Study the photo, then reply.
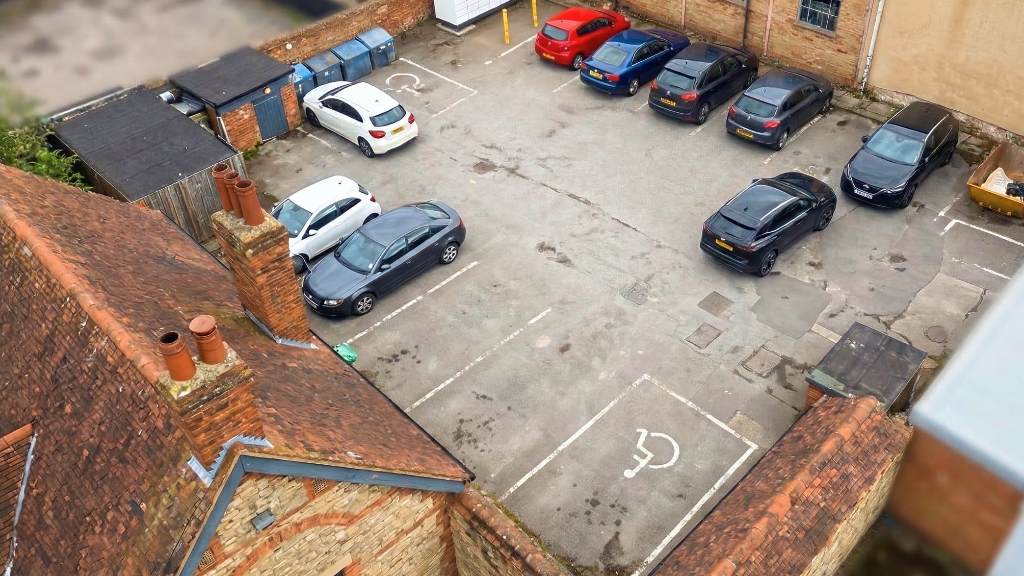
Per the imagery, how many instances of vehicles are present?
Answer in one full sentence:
In total, there are 9 vehicles in the scene.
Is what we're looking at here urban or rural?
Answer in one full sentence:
The area shown here is urban.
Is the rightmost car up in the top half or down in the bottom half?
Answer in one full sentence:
The top half of the photo is where the rightmost car is.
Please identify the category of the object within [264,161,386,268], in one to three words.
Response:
car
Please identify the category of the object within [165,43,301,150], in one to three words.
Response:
shed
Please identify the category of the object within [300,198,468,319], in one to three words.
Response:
car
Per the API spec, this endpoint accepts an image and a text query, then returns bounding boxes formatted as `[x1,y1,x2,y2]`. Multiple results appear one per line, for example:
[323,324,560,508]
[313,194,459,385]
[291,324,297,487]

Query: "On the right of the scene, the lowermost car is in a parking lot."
[690,168,838,280]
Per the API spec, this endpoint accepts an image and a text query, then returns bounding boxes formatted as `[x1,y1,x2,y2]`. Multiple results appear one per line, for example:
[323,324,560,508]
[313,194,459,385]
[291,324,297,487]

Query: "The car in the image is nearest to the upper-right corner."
[835,98,966,209]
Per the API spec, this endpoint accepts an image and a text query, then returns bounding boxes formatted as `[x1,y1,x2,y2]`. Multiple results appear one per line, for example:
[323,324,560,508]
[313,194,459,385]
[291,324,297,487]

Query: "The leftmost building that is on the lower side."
[0,164,487,576]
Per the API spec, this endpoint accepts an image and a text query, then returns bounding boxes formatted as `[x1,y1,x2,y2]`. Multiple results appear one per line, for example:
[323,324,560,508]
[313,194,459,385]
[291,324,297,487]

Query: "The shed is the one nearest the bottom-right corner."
[799,320,932,426]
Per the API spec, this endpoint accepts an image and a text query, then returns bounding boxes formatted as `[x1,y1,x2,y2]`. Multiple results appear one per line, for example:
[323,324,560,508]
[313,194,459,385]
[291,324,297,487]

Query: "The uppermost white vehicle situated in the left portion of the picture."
[300,83,418,161]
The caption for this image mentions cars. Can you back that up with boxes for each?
[722,68,838,150]
[300,198,468,319]
[264,161,386,268]
[645,43,762,124]
[835,98,966,209]
[529,6,631,71]
[575,24,694,96]
[690,168,838,280]
[300,83,418,161]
